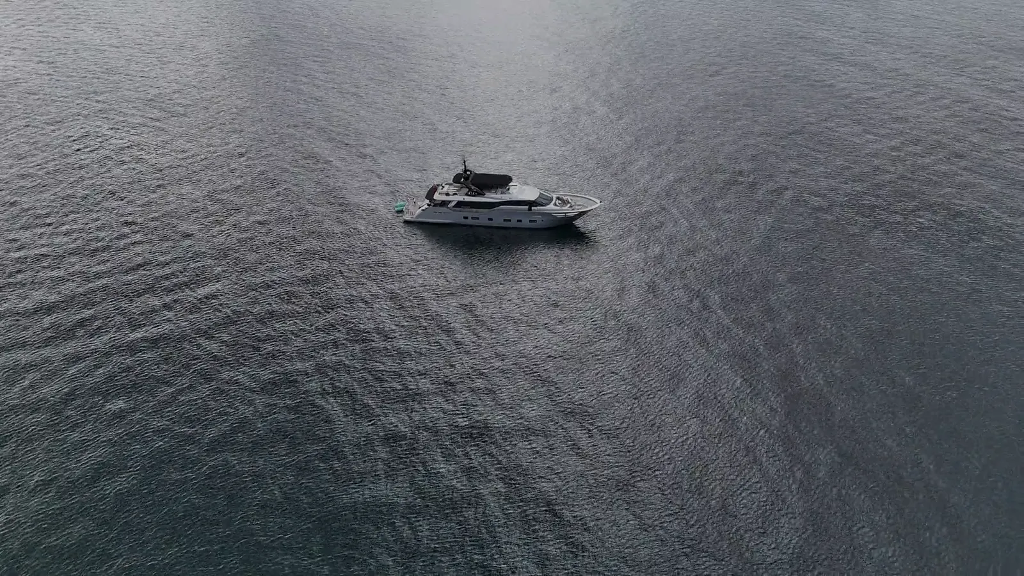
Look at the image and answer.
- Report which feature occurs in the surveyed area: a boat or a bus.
boat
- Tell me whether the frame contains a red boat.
No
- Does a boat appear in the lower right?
No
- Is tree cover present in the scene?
No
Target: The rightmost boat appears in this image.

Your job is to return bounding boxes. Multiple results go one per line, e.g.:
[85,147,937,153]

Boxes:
[404,157,603,228]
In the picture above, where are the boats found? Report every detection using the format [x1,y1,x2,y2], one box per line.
[404,157,603,228]
[393,203,408,213]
